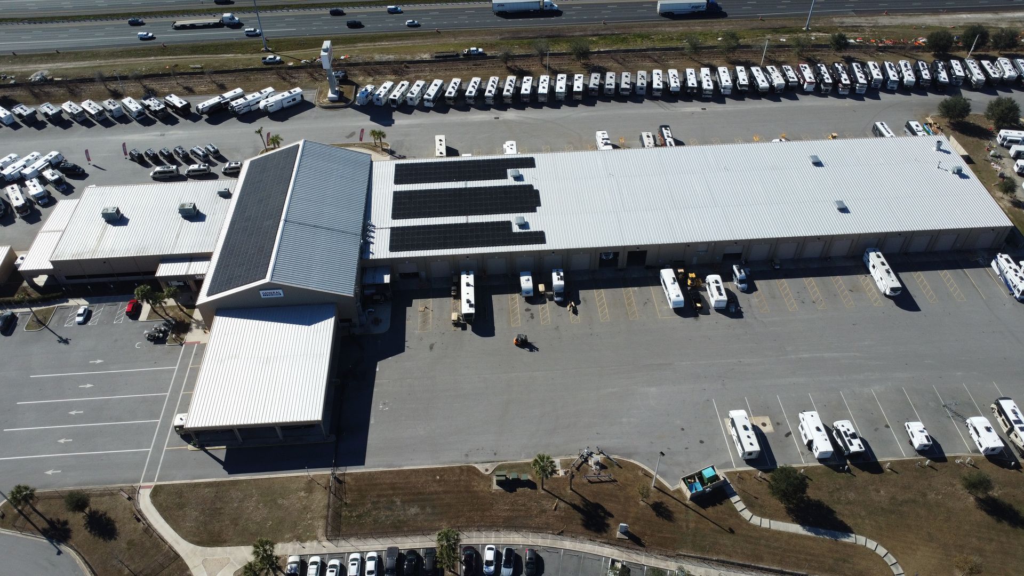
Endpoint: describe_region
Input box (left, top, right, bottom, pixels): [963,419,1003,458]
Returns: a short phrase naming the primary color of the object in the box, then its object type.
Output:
white camper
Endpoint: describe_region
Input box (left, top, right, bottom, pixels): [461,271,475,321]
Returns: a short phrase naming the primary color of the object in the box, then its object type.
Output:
white trailer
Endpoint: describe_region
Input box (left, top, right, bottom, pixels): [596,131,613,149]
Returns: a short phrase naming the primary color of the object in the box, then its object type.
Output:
white camper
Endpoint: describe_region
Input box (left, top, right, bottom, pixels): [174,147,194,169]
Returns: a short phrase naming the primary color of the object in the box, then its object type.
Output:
black vehicle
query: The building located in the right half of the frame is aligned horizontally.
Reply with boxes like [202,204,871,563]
[361,133,1014,280]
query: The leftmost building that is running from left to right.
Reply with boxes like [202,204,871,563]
[18,177,235,284]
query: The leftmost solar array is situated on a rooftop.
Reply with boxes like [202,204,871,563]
[207,145,295,296]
